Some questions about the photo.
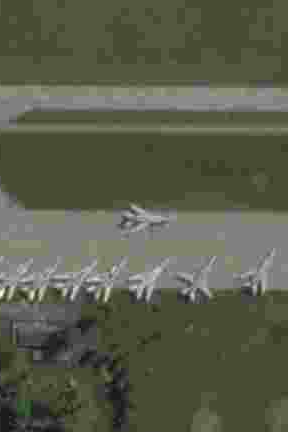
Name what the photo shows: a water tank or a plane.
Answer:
plane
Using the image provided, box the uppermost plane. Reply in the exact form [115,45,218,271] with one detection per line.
[121,201,169,233]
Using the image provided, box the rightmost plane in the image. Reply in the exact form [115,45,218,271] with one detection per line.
[235,251,273,295]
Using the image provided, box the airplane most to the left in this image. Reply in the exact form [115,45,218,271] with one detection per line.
[0,258,31,300]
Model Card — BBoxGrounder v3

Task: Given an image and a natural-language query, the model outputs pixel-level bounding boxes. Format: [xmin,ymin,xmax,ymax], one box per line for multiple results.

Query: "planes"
[235,251,273,295]
[87,258,126,301]
[128,259,168,300]
[0,258,31,300]
[56,258,96,299]
[177,257,216,301]
[19,258,58,301]
[121,201,169,233]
